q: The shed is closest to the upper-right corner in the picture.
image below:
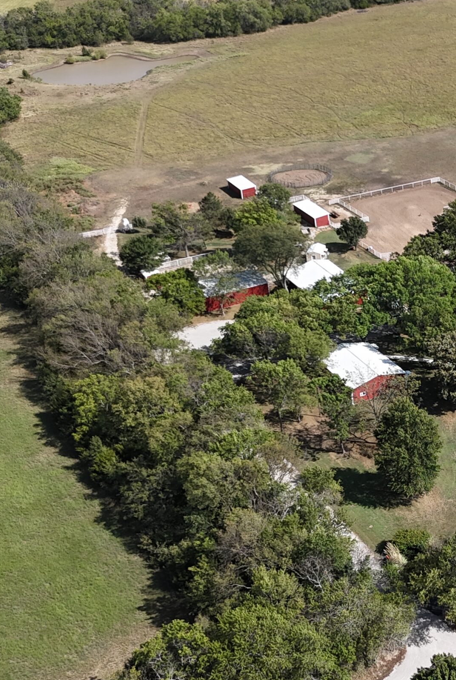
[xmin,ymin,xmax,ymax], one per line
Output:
[296,196,330,227]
